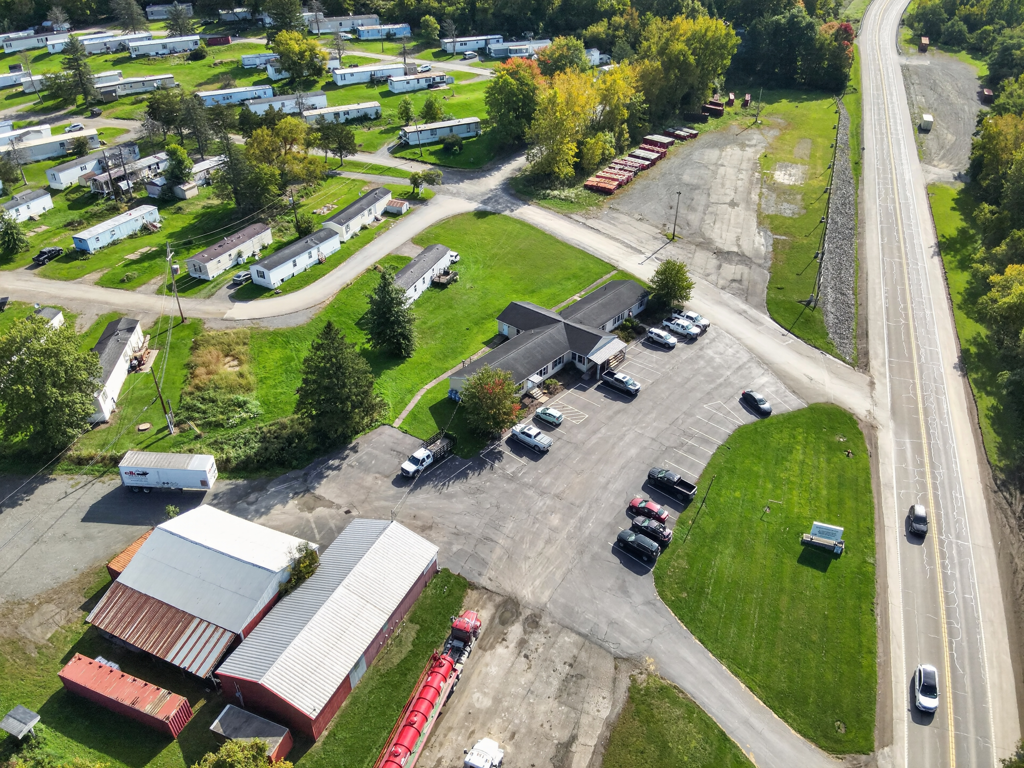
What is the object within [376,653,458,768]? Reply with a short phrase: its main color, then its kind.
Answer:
red trailer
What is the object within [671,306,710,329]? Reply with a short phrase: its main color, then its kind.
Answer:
white truck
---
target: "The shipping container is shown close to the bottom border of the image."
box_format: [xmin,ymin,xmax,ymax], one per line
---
[59,652,193,738]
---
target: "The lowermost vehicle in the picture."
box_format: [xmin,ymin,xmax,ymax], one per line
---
[465,733,507,768]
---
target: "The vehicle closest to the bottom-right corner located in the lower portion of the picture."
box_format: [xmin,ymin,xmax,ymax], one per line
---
[911,662,943,717]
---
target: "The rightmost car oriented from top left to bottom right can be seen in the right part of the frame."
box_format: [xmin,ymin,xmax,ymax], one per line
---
[738,391,774,418]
